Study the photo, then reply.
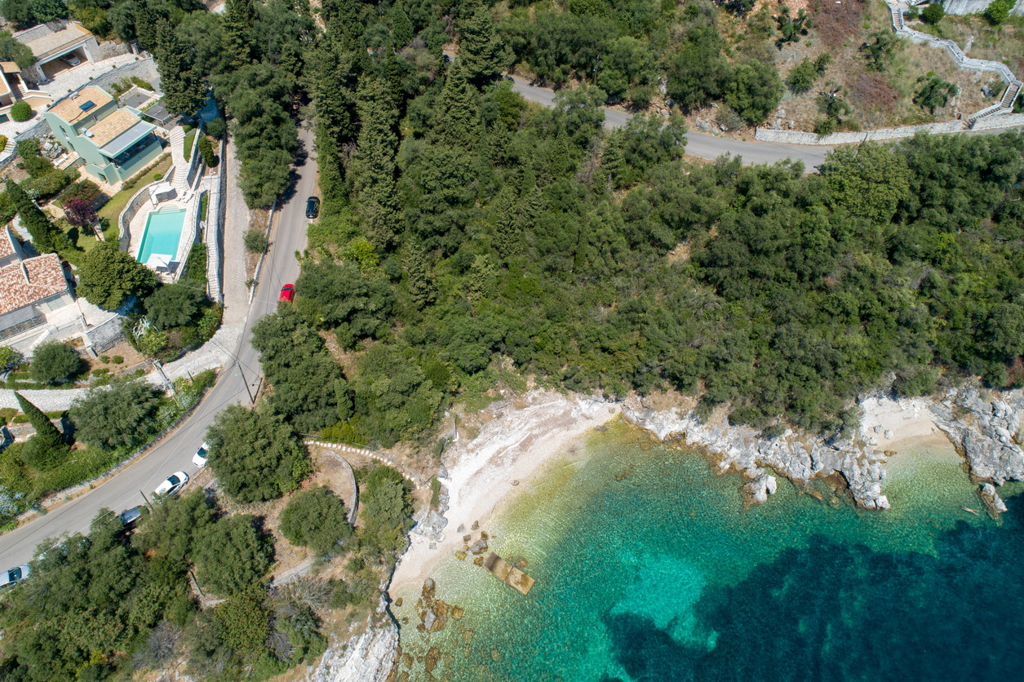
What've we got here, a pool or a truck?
pool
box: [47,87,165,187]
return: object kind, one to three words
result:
building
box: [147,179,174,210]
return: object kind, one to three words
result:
umbrella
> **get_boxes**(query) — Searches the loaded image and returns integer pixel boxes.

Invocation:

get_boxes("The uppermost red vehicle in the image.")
[277,278,296,301]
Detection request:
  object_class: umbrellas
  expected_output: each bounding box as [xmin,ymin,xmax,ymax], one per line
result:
[147,179,174,210]
[143,252,176,275]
